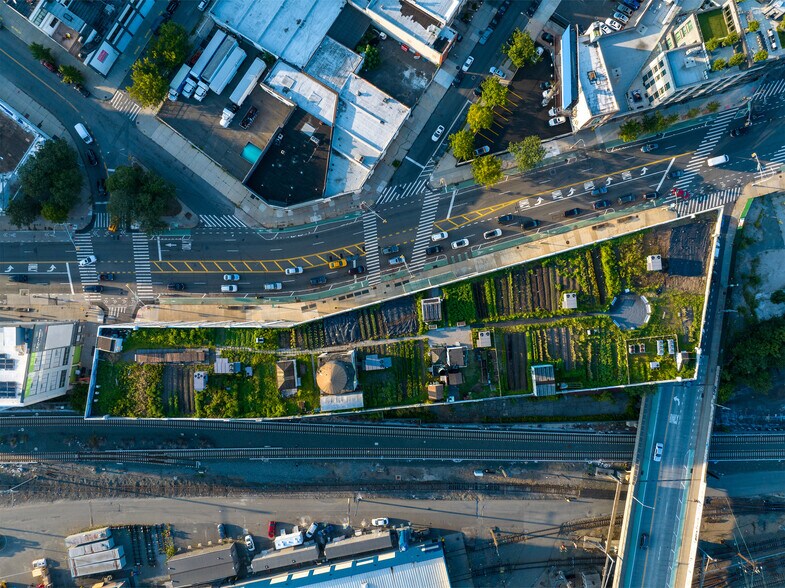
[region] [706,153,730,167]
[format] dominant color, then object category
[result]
white vehicle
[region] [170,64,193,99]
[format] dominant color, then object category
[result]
blue truck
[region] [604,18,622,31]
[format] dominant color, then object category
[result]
white vehicle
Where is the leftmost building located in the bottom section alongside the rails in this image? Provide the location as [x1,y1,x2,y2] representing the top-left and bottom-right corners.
[0,320,80,409]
